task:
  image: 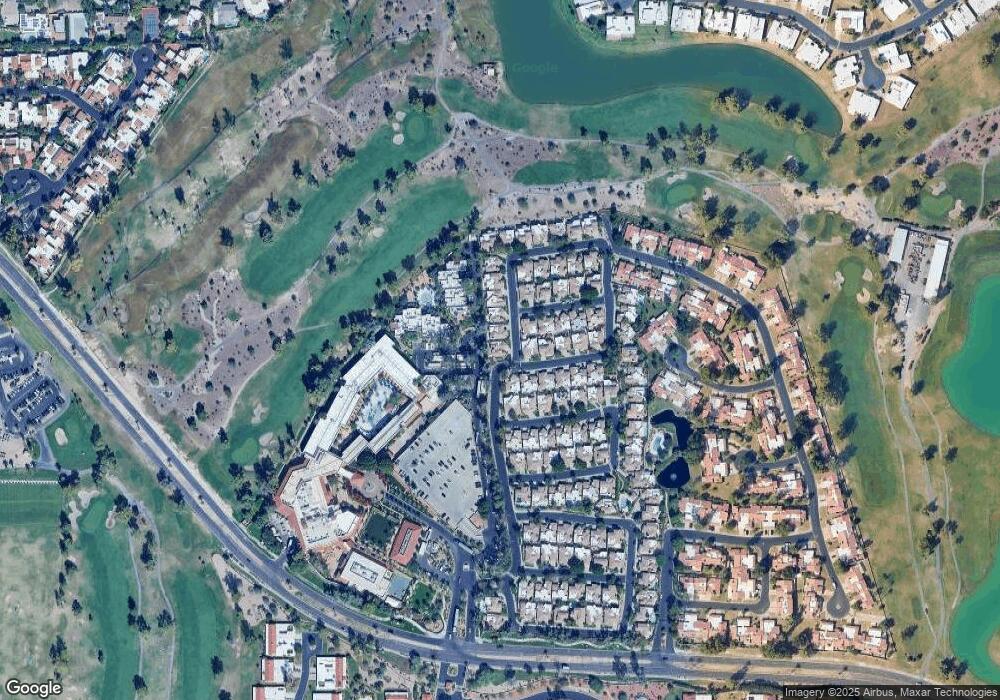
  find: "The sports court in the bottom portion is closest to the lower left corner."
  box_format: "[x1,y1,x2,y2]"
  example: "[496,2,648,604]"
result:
[389,572,412,599]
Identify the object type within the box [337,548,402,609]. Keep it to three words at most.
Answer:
building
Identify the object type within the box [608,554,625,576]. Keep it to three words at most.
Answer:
house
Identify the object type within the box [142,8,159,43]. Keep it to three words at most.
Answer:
tennis court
